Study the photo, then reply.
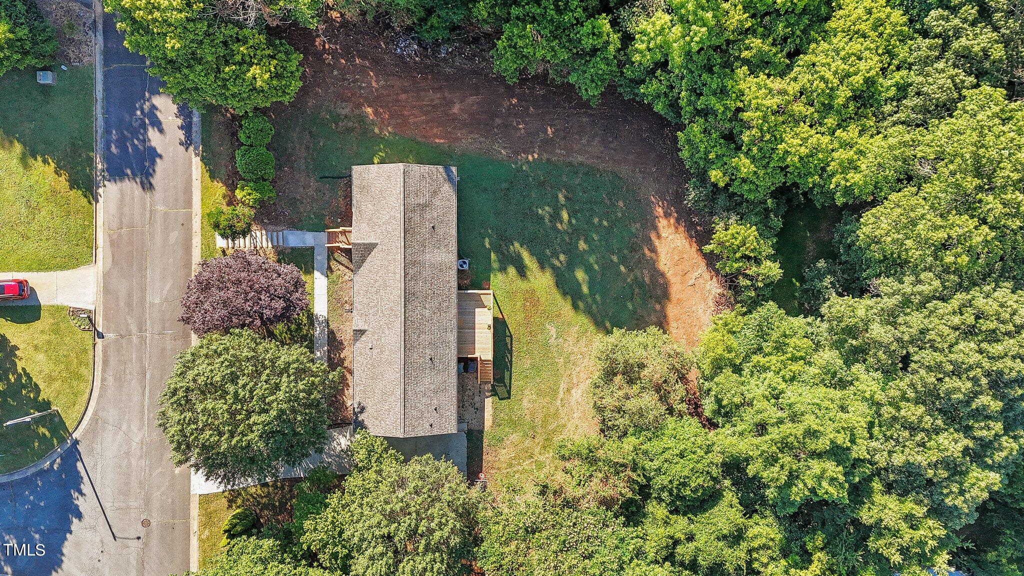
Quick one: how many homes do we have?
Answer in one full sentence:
In total, 1 home can be seen.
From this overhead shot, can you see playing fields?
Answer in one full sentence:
No, there isn't any playing field down there.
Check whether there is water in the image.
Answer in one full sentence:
No, the picture contains no water.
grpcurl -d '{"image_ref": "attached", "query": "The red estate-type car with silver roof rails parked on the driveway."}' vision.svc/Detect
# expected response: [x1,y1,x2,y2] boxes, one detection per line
[0,278,32,302]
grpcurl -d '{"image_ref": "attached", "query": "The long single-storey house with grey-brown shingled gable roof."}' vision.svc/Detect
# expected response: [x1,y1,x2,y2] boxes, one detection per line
[349,162,465,437]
